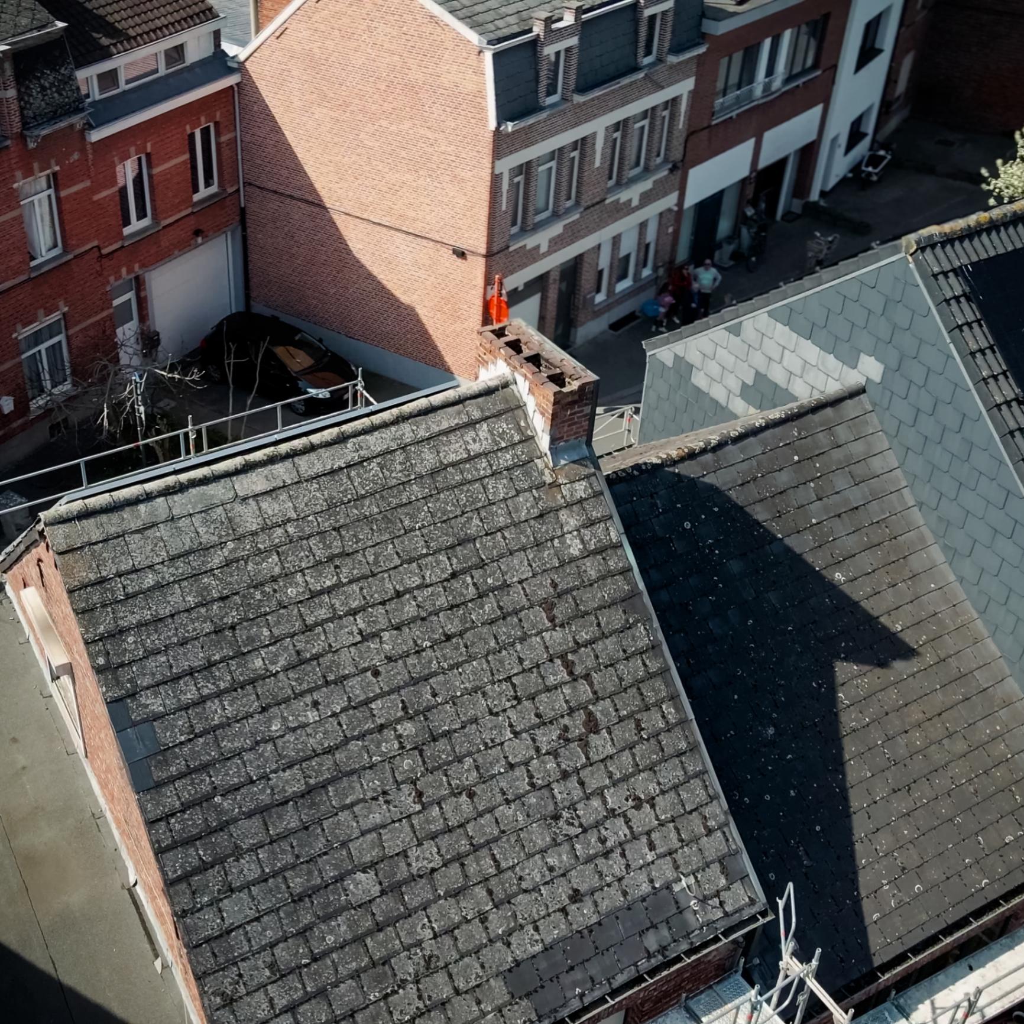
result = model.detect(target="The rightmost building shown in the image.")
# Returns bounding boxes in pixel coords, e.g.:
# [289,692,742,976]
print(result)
[903,0,1024,139]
